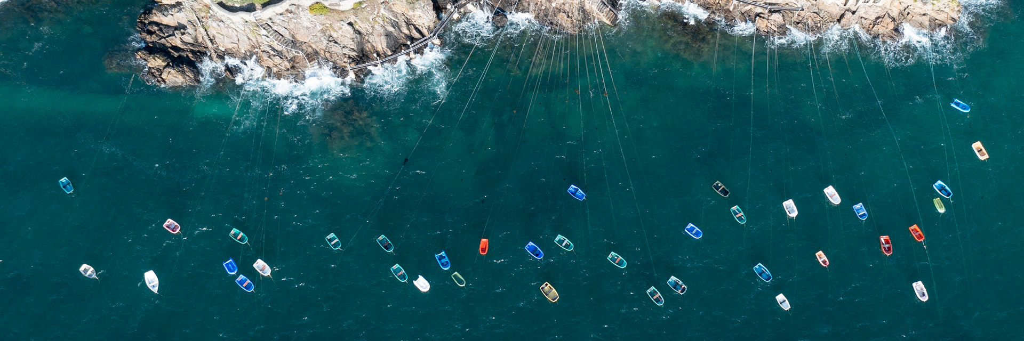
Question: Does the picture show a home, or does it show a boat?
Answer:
boat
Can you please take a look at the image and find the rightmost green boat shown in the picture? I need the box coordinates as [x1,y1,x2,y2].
[932,197,944,215]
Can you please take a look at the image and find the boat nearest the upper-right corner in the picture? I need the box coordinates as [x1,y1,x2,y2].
[951,99,970,113]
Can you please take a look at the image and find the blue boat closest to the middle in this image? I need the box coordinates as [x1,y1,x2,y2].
[568,185,585,200]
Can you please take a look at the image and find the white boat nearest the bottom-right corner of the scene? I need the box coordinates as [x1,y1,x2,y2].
[913,281,929,303]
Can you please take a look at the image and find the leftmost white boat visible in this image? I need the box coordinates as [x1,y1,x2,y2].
[79,263,100,280]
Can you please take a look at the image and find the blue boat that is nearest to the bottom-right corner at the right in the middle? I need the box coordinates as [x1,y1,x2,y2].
[934,180,953,200]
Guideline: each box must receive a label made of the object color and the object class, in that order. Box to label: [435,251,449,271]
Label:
blue boat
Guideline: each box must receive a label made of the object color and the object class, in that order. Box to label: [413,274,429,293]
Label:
white boat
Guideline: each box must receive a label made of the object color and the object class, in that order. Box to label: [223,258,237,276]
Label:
blue boat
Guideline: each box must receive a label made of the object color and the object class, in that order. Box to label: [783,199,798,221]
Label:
white boat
